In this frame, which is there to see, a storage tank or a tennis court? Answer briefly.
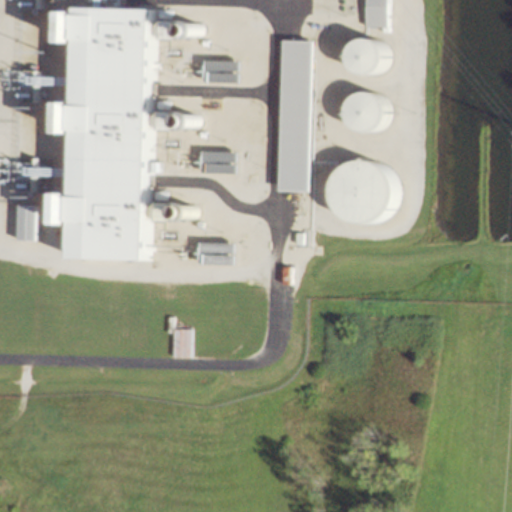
storage tank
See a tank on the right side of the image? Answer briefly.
Yes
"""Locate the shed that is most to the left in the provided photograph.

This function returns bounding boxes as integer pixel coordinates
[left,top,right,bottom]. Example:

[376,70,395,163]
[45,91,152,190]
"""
[16,204,44,241]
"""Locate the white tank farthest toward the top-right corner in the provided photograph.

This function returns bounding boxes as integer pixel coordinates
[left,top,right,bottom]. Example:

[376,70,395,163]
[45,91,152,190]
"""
[340,38,394,76]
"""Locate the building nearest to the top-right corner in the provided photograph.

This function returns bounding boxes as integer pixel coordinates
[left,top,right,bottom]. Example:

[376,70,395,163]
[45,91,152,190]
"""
[365,0,394,33]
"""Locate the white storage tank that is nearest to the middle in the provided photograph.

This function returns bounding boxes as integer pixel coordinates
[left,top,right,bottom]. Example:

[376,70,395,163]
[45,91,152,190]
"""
[324,158,404,224]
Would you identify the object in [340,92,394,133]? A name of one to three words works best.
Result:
storage tank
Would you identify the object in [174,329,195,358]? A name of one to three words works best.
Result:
shed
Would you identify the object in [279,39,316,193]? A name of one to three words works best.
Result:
building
